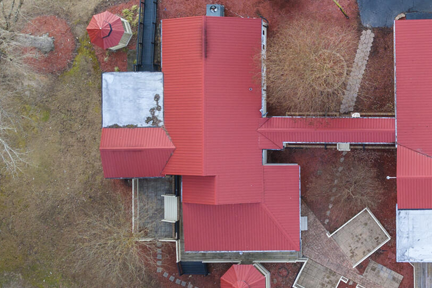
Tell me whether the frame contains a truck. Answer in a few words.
No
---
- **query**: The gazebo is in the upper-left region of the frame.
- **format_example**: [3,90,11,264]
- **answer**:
[86,11,136,51]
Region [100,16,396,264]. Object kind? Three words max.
house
